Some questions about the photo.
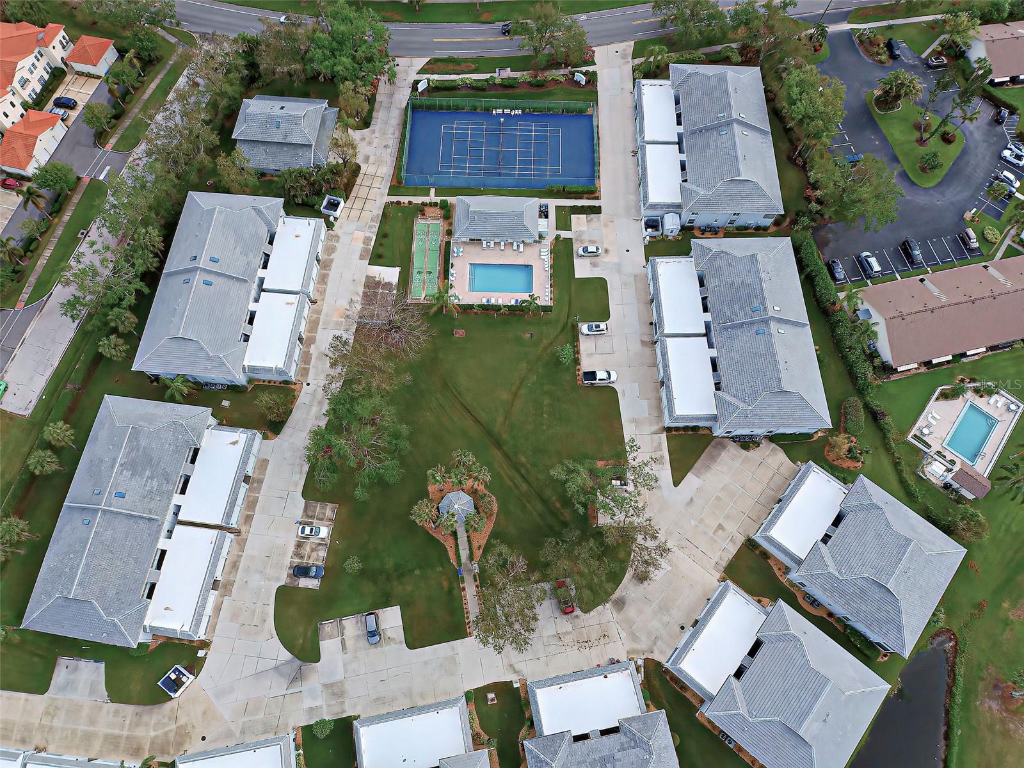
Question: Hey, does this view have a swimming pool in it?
Yes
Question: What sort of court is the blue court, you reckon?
tennis court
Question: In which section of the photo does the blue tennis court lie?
top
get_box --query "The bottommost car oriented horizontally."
[291,564,325,578]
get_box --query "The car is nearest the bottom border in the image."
[365,610,380,645]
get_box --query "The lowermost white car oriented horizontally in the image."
[296,525,329,539]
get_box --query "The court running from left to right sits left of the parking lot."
[403,110,596,188]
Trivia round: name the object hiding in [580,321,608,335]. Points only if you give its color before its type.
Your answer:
white car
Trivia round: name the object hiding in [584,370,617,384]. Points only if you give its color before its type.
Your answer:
white vehicle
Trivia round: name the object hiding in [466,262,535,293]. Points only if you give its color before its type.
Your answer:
blue swimming pool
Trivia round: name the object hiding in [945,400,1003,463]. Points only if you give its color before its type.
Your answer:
blue swimming pool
